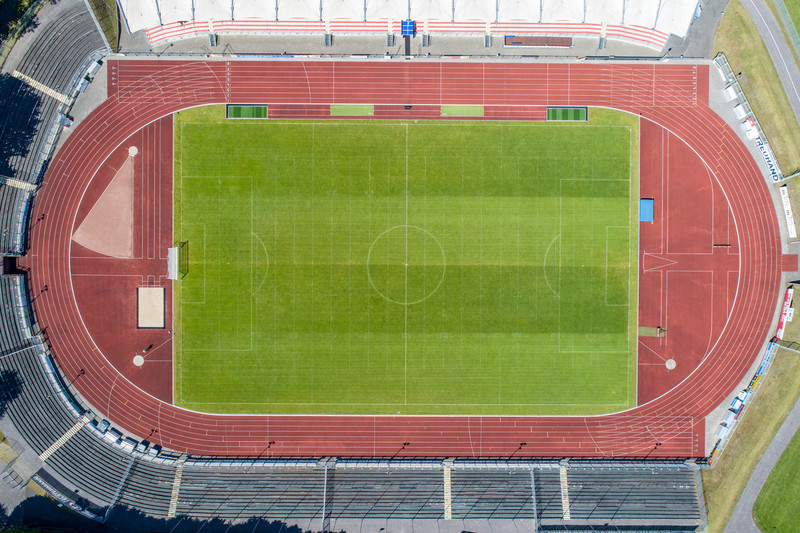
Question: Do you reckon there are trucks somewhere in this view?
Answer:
No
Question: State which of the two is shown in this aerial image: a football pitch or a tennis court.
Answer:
football pitch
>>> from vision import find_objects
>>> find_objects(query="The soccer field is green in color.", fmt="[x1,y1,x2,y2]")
[173,103,641,416]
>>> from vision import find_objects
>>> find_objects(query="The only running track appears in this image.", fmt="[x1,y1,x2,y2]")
[26,59,782,457]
